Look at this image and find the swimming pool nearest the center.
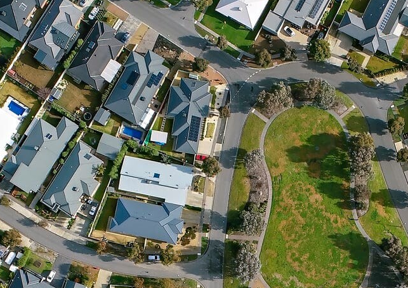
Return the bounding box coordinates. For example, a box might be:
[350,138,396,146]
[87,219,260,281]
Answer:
[119,125,144,142]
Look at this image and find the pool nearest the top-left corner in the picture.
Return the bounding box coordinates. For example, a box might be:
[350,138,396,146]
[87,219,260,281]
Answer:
[4,102,26,118]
